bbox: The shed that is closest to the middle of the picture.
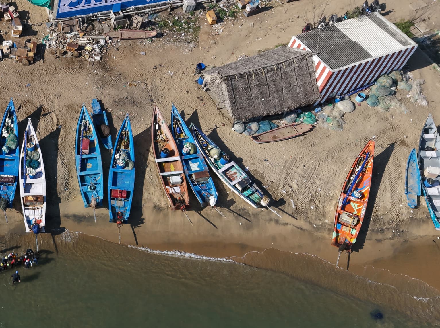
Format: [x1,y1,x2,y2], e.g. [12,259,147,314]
[200,44,329,122]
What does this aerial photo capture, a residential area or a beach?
beach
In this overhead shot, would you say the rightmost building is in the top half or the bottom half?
top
